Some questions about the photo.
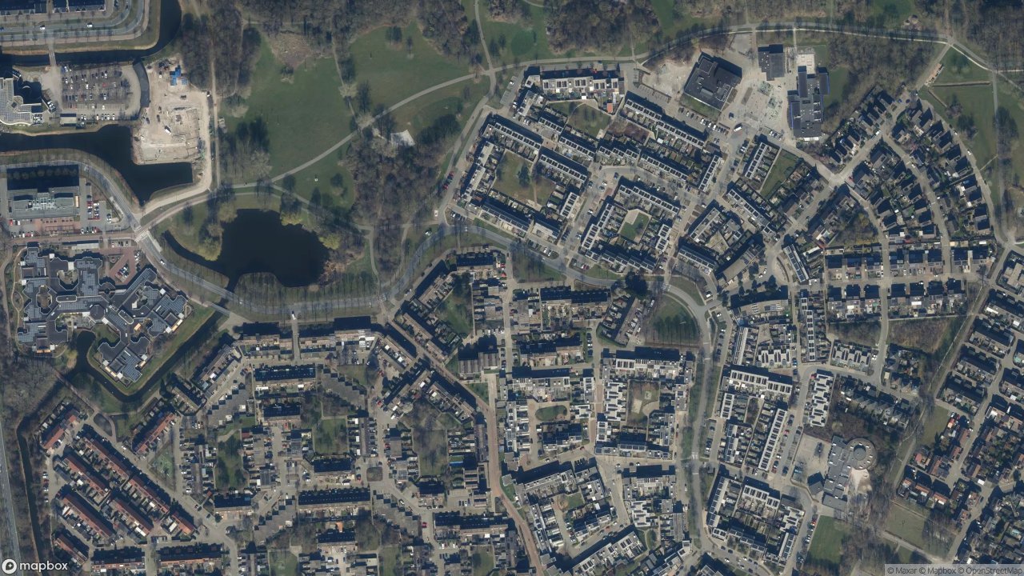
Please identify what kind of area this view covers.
residential area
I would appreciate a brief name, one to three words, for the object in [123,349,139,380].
solar array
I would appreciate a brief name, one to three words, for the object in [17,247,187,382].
house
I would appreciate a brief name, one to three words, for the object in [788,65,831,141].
building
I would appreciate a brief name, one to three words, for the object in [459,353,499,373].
building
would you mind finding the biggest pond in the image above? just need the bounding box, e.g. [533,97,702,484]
[164,209,329,291]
